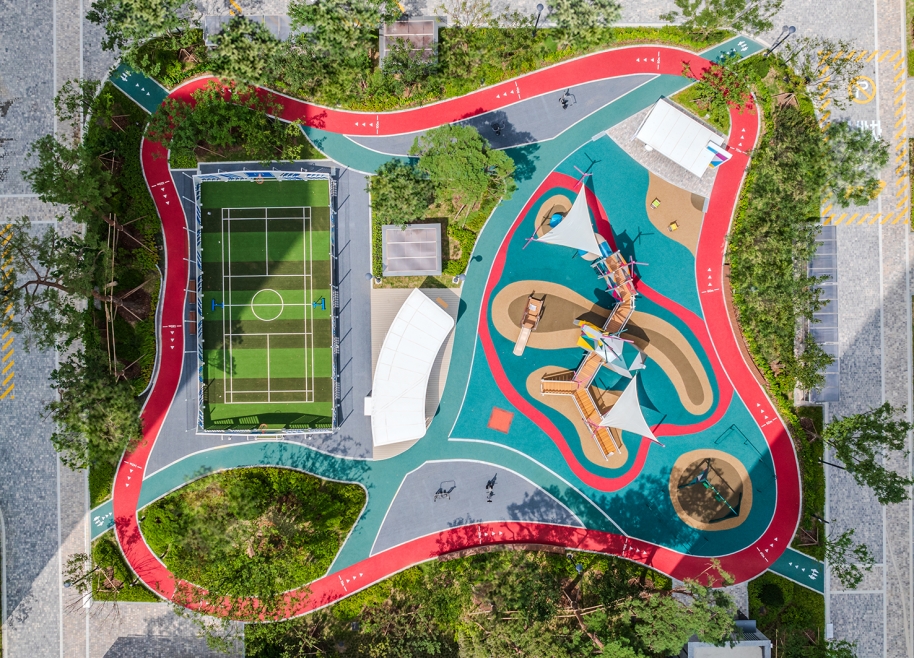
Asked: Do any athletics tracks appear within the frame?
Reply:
Yes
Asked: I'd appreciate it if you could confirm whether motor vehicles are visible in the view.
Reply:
No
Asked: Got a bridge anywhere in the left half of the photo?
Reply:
No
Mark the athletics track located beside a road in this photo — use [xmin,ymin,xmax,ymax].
[112,44,803,624]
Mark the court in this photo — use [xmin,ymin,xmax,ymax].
[203,180,333,430]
